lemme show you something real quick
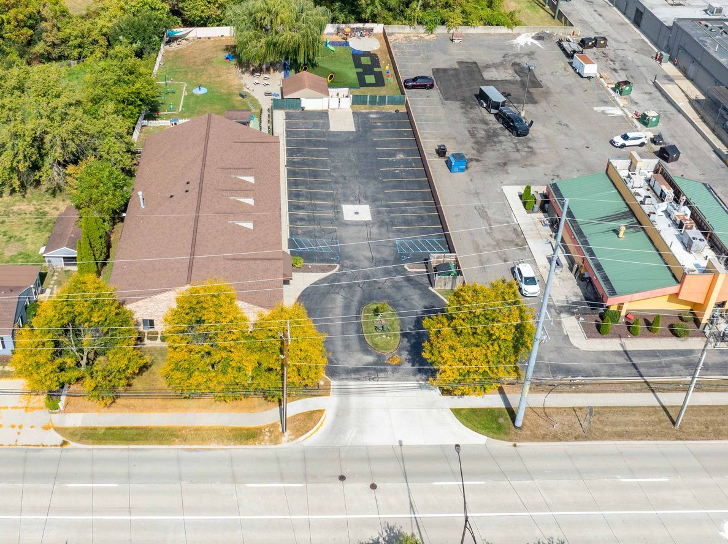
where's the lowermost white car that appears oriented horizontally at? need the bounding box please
[611,130,651,148]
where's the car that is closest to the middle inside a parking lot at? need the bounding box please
[507,265,543,298]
